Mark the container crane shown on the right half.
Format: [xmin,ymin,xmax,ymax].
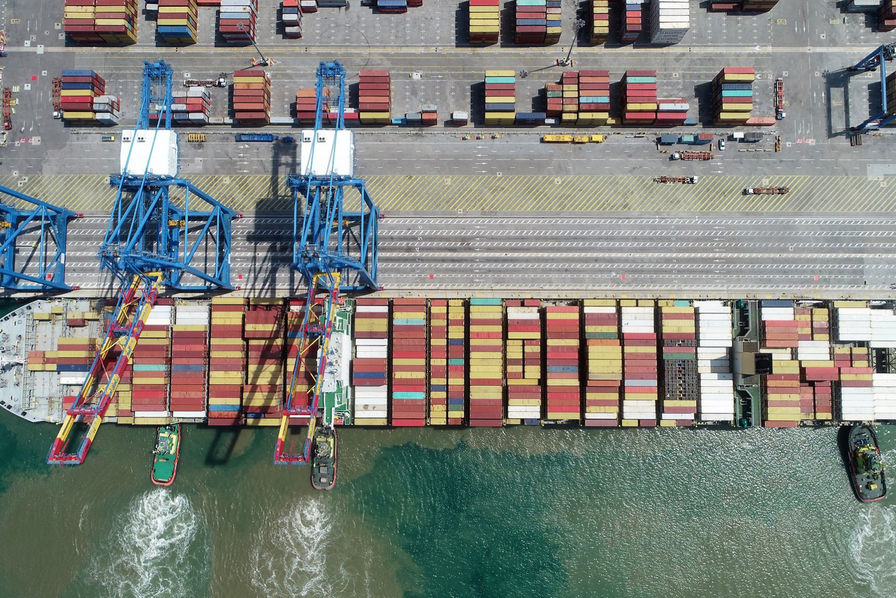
[846,45,896,133]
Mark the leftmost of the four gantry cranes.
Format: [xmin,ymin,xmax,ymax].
[0,181,87,290]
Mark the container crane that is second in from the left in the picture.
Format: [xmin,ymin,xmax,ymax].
[46,59,244,465]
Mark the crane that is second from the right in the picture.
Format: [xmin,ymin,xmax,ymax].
[273,60,384,465]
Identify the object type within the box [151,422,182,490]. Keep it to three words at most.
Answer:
boat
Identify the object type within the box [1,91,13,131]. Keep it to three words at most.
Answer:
vehicle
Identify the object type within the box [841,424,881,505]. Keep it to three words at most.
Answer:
boat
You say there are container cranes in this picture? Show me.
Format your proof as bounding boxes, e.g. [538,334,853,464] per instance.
[846,45,896,133]
[0,181,87,290]
[273,60,384,465]
[46,59,244,465]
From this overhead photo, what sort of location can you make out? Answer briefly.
port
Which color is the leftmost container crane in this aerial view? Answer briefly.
blue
